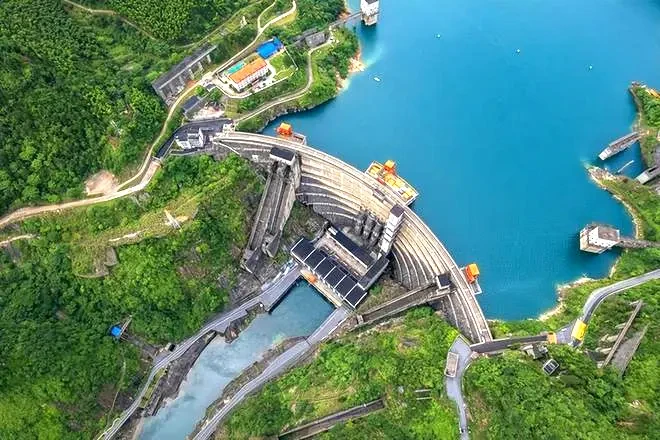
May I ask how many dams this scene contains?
one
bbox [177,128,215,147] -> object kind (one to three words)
building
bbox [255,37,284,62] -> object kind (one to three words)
building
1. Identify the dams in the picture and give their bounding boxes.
[213,130,492,341]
